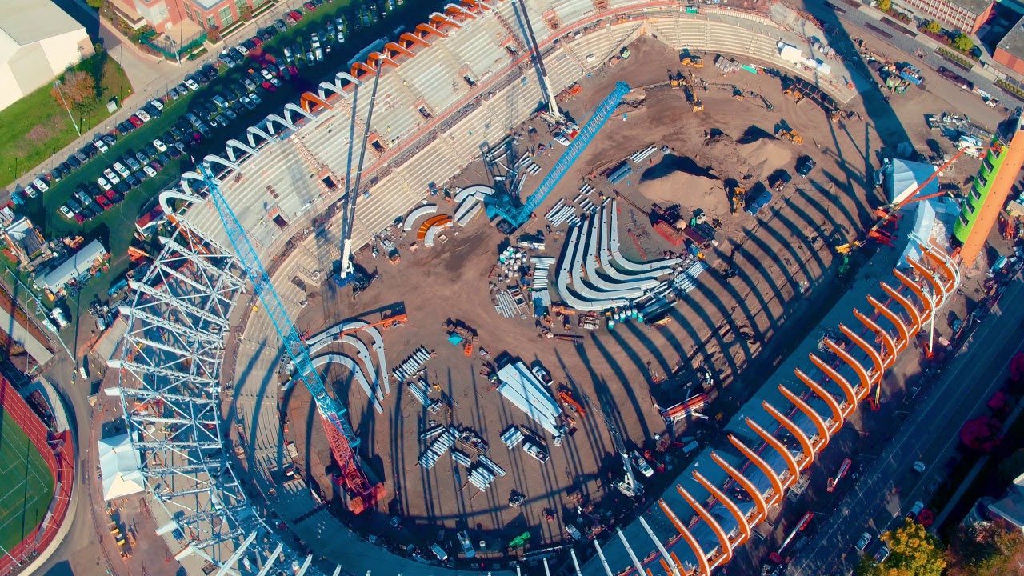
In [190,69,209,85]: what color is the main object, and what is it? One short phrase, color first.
blue vehicle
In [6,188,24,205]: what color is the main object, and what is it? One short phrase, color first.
blue work vehicle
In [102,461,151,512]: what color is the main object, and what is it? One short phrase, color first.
white tent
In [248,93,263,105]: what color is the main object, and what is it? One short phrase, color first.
blue vehicle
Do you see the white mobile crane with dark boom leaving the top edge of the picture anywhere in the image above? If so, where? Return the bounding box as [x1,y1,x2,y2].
[504,0,576,135]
